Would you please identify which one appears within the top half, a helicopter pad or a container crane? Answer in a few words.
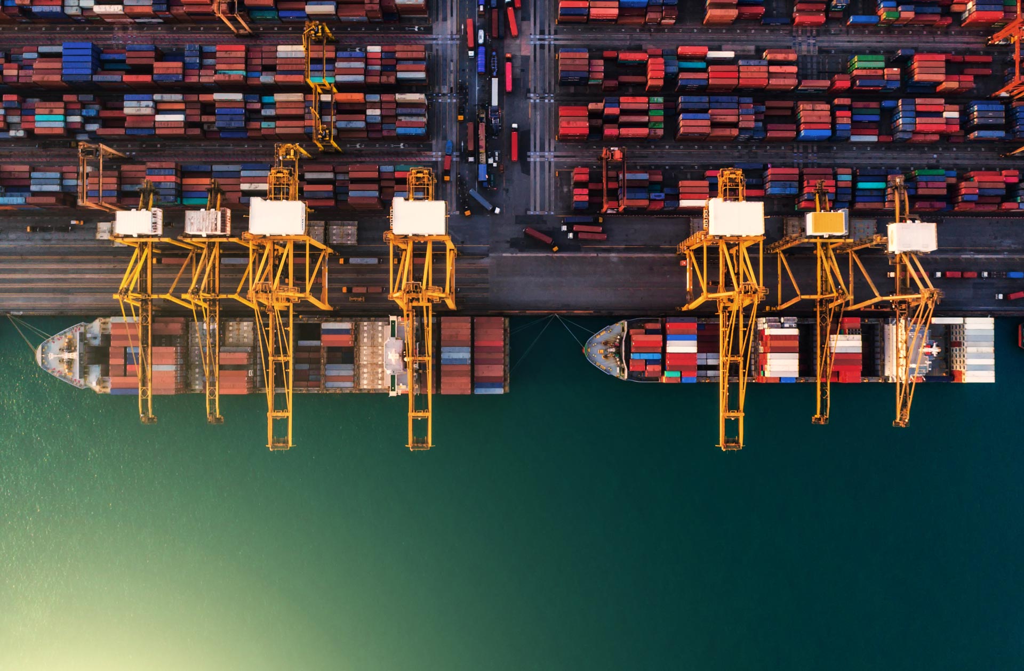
container crane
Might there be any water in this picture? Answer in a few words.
Yes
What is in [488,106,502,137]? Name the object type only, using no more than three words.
work vehicle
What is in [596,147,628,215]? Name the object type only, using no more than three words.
container crane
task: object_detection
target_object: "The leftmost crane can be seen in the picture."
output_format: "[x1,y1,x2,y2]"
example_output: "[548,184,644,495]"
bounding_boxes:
[79,143,129,212]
